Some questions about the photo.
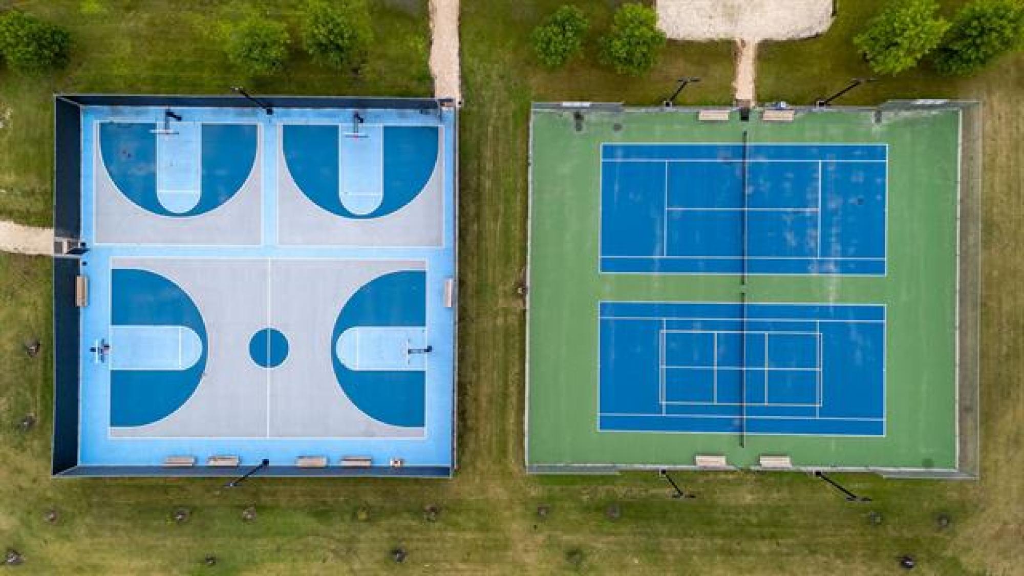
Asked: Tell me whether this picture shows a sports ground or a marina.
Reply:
sports ground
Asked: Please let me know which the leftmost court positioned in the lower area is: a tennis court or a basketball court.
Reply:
basketball court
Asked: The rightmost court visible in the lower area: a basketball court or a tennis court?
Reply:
tennis court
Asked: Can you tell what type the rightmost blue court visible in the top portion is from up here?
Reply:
tennis court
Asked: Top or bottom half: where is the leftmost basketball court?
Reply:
top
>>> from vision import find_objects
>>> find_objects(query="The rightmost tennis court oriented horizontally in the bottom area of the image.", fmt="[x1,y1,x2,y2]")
[598,301,886,437]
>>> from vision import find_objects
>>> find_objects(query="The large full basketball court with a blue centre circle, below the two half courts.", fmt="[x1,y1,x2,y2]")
[108,257,427,439]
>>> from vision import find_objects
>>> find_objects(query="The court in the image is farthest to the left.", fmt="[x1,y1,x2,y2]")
[94,121,262,246]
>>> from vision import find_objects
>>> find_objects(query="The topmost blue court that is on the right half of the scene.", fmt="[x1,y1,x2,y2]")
[599,144,888,276]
